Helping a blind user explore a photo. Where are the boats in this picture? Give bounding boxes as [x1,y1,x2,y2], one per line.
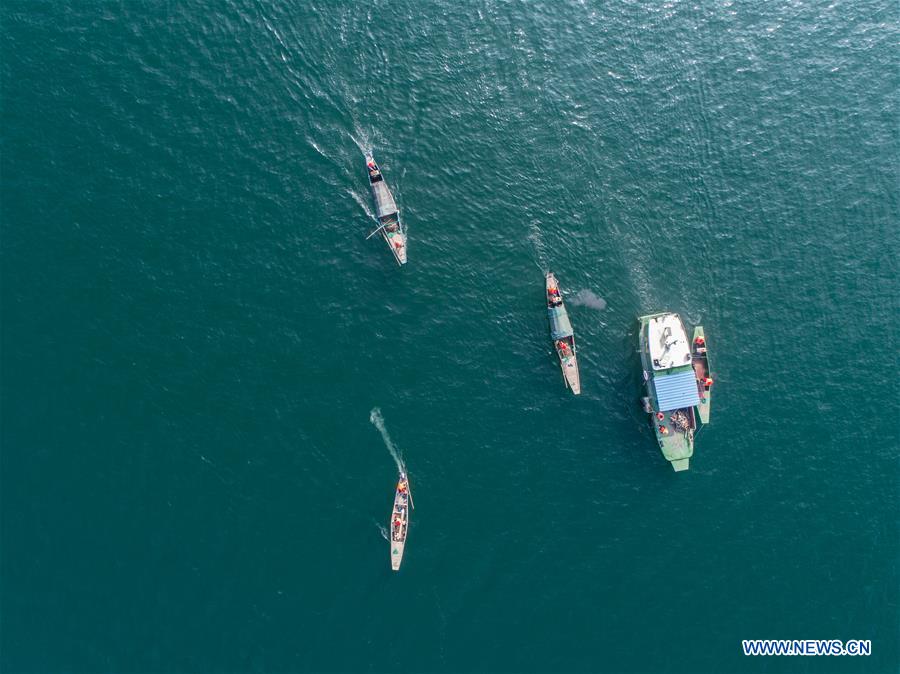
[546,263,580,395]
[390,464,409,572]
[693,326,712,424]
[638,312,700,472]
[365,145,406,265]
